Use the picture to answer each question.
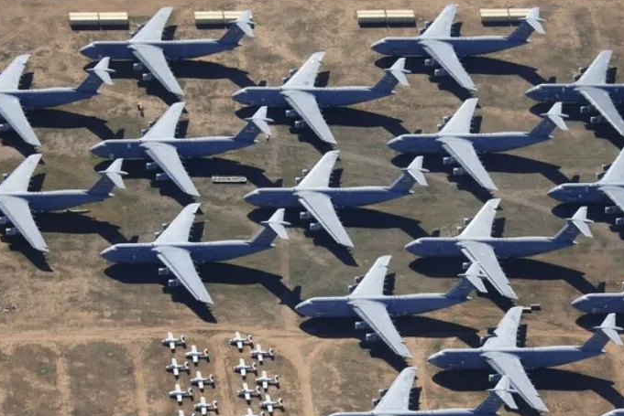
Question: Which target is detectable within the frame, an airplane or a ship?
airplane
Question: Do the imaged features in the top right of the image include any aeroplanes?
Yes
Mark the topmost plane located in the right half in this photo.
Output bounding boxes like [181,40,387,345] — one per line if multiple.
[371,3,546,90]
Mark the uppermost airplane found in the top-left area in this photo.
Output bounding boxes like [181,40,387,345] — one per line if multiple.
[79,7,255,93]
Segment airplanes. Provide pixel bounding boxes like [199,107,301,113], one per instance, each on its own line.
[255,373,279,390]
[0,53,113,144]
[185,346,209,363]
[243,148,429,246]
[329,365,518,416]
[572,280,624,314]
[404,198,593,298]
[428,305,624,413]
[294,253,488,358]
[371,3,546,90]
[100,202,290,304]
[0,153,127,251]
[231,334,254,350]
[548,147,624,226]
[231,52,411,142]
[525,49,624,135]
[387,96,570,189]
[79,7,255,93]
[169,385,193,402]
[194,399,218,416]
[162,333,186,350]
[166,359,189,376]
[234,359,256,376]
[191,373,213,390]
[237,384,261,401]
[259,397,283,414]
[250,346,273,363]
[90,101,273,195]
